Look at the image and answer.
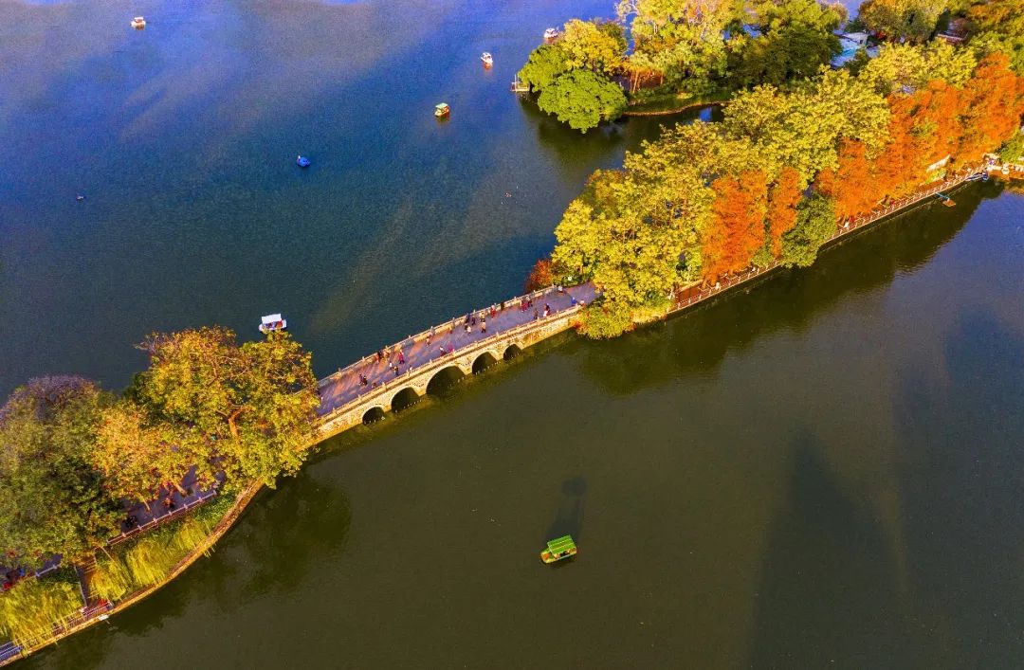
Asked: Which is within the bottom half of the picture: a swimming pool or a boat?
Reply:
boat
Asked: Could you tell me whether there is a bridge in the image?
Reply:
Yes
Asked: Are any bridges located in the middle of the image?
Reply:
Yes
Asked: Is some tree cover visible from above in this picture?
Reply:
Yes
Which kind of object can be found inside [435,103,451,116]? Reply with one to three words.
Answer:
boat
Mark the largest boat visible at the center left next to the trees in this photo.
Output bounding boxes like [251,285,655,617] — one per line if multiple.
[258,312,287,334]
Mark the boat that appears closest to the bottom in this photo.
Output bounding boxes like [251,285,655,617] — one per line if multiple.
[543,532,579,564]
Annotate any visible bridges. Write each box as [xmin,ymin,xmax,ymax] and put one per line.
[291,283,577,445]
